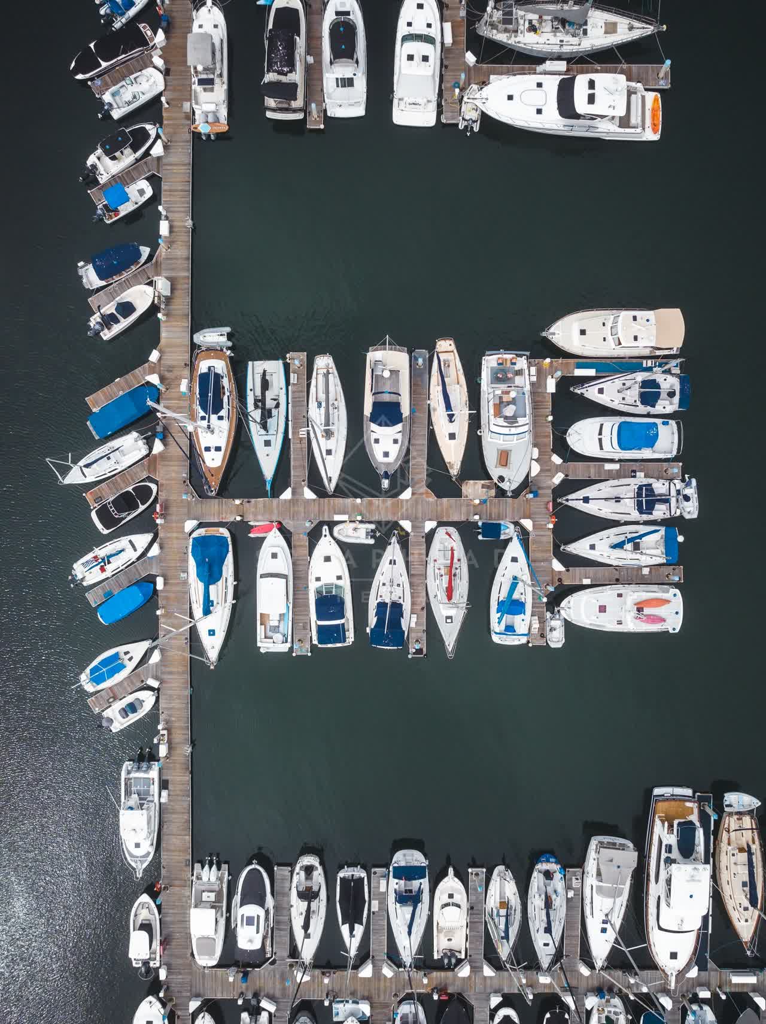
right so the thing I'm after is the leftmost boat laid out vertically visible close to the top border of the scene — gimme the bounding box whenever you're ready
[188,0,228,146]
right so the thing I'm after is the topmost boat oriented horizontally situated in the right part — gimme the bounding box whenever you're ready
[470,0,667,55]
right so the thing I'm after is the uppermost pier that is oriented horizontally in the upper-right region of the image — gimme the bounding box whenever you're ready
[465,55,671,90]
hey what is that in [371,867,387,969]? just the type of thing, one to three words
pier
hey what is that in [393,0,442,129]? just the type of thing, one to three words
boat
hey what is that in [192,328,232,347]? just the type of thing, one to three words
boat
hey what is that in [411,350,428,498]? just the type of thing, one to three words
pier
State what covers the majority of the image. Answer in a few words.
water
